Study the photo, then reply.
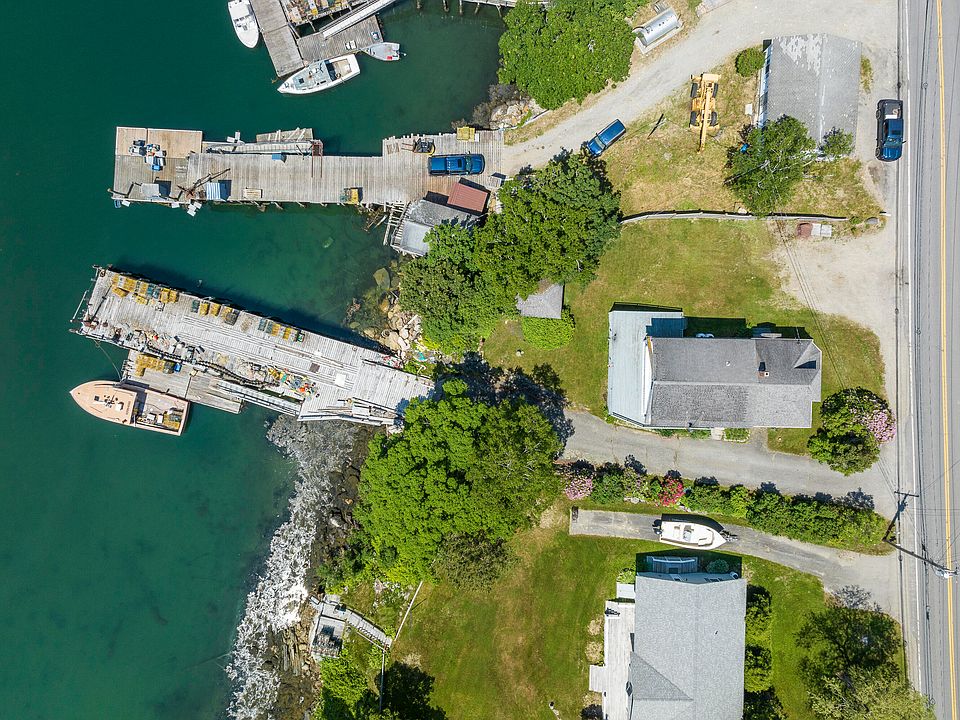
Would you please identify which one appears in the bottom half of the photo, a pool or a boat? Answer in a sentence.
The feature located in the bottom half of the photo is a boat.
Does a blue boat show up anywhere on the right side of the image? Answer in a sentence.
No, there's no blue boat to be seen on the right side of the image.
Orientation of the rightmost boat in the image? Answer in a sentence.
The rightmost boat is oriented horizontally.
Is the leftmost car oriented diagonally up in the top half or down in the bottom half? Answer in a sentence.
The leftmost car oriented diagonally is in the top half of the image.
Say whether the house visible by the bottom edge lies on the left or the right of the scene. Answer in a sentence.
The house visible by the bottom edge is on the right side of the image.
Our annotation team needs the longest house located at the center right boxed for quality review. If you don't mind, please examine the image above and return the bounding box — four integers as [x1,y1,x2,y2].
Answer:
[605,310,822,428]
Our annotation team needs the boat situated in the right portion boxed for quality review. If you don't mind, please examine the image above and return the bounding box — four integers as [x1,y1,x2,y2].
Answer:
[652,519,729,547]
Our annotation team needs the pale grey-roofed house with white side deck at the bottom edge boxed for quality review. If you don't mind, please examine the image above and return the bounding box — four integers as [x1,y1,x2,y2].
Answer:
[589,557,748,720]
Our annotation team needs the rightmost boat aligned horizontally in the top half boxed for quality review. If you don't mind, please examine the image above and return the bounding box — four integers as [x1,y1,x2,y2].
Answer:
[362,41,405,60]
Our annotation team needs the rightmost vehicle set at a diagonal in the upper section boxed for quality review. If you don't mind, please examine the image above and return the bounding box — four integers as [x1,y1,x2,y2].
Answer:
[582,114,632,158]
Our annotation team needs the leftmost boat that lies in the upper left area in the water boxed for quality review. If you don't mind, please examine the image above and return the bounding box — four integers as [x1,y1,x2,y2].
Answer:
[225,0,259,51]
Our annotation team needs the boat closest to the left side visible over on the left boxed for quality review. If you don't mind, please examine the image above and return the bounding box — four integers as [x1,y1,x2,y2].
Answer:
[68,383,195,437]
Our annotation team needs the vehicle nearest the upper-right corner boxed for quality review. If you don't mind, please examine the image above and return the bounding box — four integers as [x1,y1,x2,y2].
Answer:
[872,99,902,161]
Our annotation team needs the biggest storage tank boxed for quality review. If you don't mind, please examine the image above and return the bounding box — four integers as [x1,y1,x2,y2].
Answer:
[631,2,691,57]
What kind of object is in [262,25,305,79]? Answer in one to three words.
pier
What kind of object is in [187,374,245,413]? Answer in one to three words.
pier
